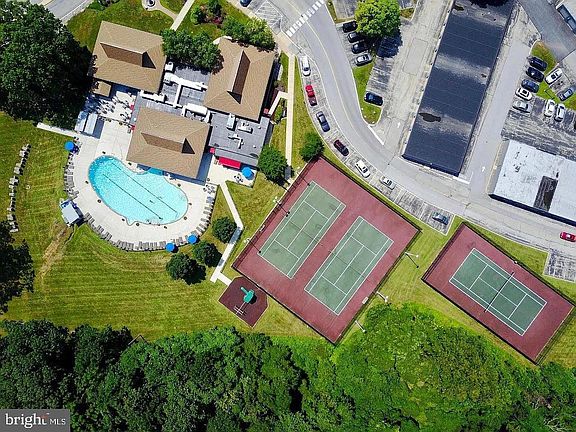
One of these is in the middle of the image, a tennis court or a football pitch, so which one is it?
tennis court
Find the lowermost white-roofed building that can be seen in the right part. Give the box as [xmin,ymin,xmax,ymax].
[486,139,576,225]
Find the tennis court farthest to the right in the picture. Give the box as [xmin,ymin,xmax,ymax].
[424,225,576,362]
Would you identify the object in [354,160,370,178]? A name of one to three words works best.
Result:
car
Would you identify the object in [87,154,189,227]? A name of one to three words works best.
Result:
swimming pool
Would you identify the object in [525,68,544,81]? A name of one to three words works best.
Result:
vehicle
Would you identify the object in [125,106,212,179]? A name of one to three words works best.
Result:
building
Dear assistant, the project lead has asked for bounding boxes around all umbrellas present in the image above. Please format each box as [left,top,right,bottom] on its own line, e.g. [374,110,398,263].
[166,242,176,253]
[242,166,253,178]
[65,141,76,151]
[188,234,198,244]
